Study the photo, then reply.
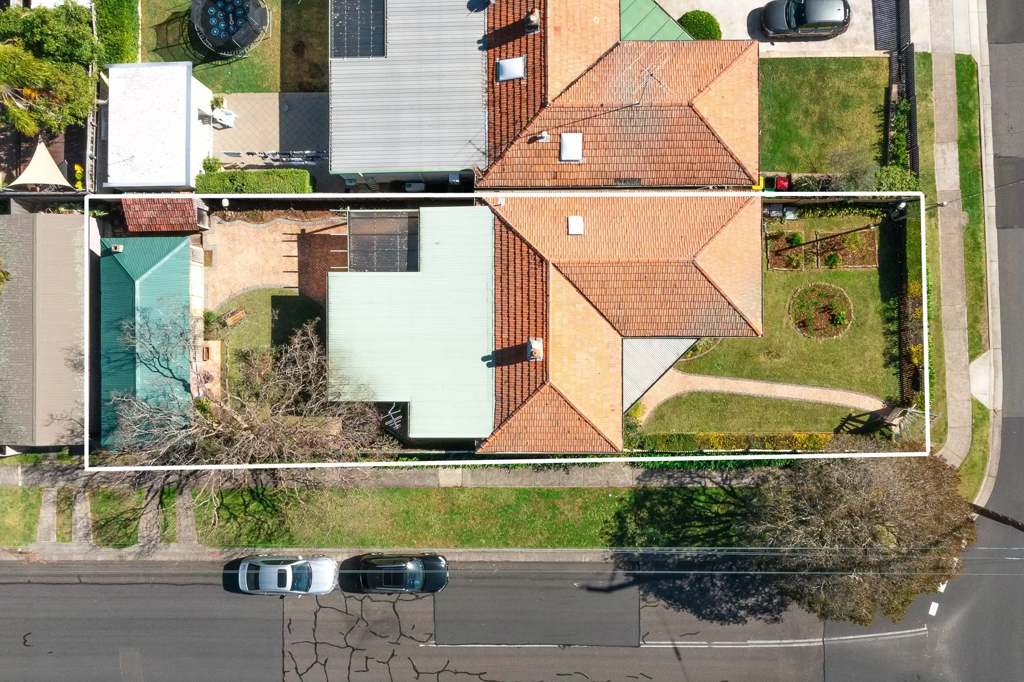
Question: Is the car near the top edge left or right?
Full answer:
The car near the top edge appears in the right half of the scene.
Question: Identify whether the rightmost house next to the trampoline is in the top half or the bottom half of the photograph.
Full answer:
The rightmost house next to the trampoline is in the top half of the image.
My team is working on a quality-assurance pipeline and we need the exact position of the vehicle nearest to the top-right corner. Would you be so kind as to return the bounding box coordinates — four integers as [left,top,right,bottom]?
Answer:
[760,0,854,41]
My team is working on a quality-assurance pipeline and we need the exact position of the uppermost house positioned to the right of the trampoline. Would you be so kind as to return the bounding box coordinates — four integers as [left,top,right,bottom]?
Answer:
[328,0,761,189]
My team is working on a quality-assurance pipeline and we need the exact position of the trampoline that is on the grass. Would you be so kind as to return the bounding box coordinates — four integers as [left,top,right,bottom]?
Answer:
[178,0,281,71]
